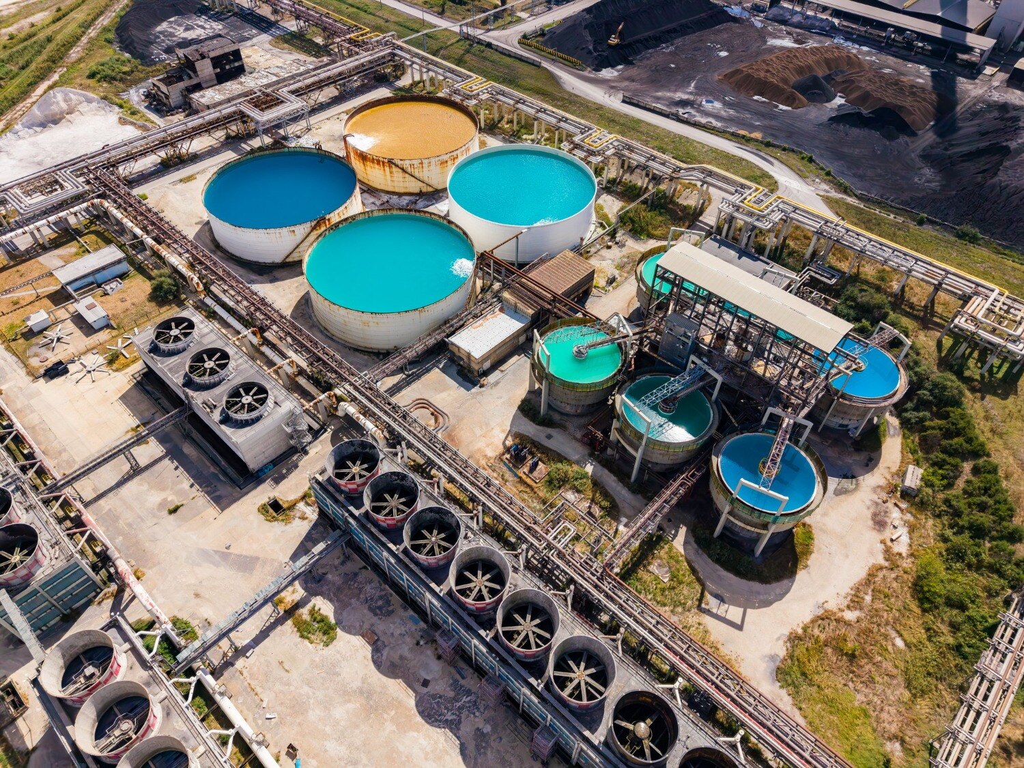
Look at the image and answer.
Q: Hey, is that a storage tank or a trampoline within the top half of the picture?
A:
storage tank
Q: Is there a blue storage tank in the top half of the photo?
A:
Yes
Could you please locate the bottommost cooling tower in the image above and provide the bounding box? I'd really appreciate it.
[25,612,230,768]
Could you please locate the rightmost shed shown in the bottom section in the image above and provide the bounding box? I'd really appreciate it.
[902,466,927,502]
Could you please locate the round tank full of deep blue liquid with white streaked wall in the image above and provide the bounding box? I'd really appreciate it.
[202,147,369,267]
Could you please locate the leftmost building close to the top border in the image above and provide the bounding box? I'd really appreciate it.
[149,32,250,106]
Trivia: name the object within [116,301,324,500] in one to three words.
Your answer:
cooling tower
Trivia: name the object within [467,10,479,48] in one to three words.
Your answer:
pylon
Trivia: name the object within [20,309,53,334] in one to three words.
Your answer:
shed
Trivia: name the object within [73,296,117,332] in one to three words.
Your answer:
shed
